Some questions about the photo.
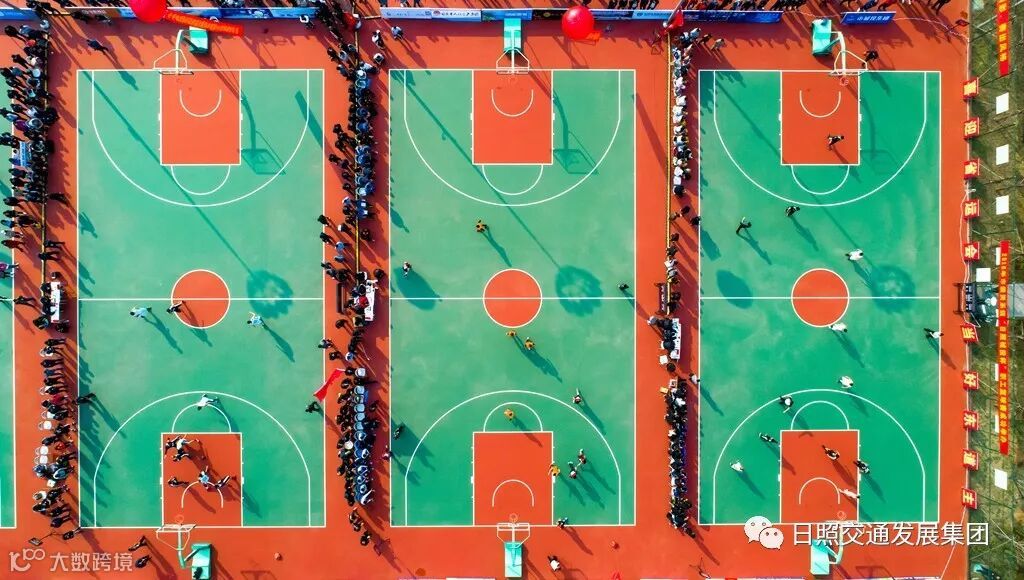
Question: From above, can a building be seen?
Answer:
No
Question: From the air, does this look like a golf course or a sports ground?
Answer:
sports ground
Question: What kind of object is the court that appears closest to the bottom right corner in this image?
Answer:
basketball court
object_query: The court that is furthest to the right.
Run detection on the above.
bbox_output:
[698,70,941,525]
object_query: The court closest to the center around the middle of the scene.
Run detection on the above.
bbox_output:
[390,69,635,527]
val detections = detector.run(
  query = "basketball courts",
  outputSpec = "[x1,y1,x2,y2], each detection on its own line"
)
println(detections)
[698,70,941,525]
[390,69,635,527]
[0,69,14,529]
[76,69,326,529]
